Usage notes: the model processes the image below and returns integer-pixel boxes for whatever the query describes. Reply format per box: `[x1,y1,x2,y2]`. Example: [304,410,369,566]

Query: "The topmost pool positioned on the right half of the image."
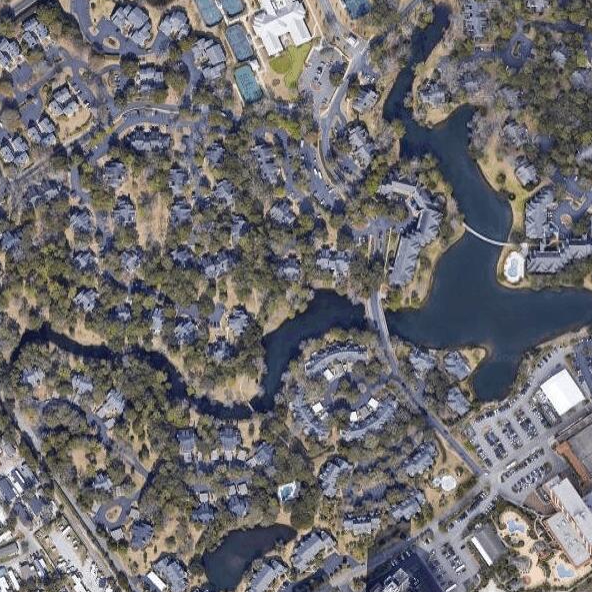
[504,252,525,282]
